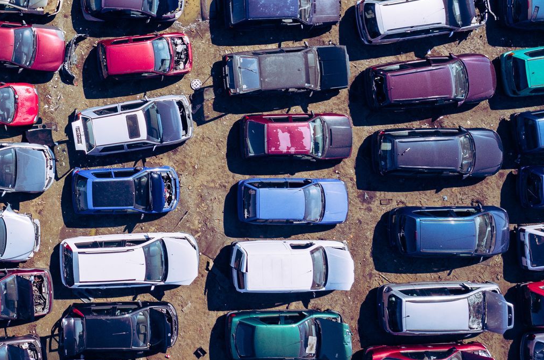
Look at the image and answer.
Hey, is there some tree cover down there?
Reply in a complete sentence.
No, the picture contains no tree cover.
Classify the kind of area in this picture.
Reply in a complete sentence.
The picture captures a parking lot.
